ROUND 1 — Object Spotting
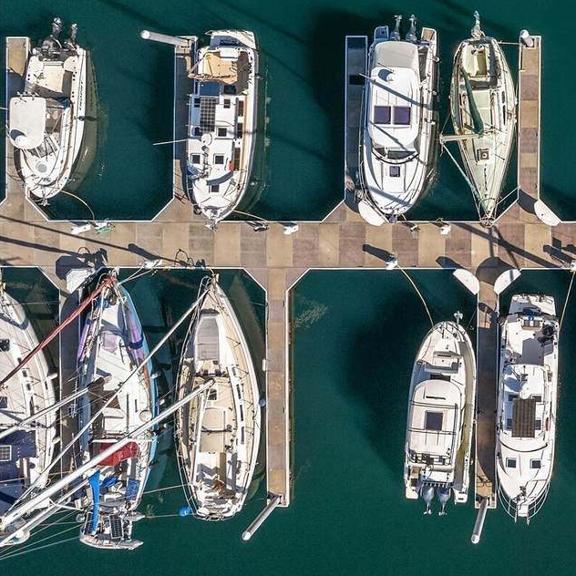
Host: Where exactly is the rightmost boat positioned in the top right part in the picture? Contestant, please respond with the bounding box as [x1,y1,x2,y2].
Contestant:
[440,8,516,224]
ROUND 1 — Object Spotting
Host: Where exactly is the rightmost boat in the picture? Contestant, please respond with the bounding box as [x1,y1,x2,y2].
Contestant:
[495,294,559,519]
